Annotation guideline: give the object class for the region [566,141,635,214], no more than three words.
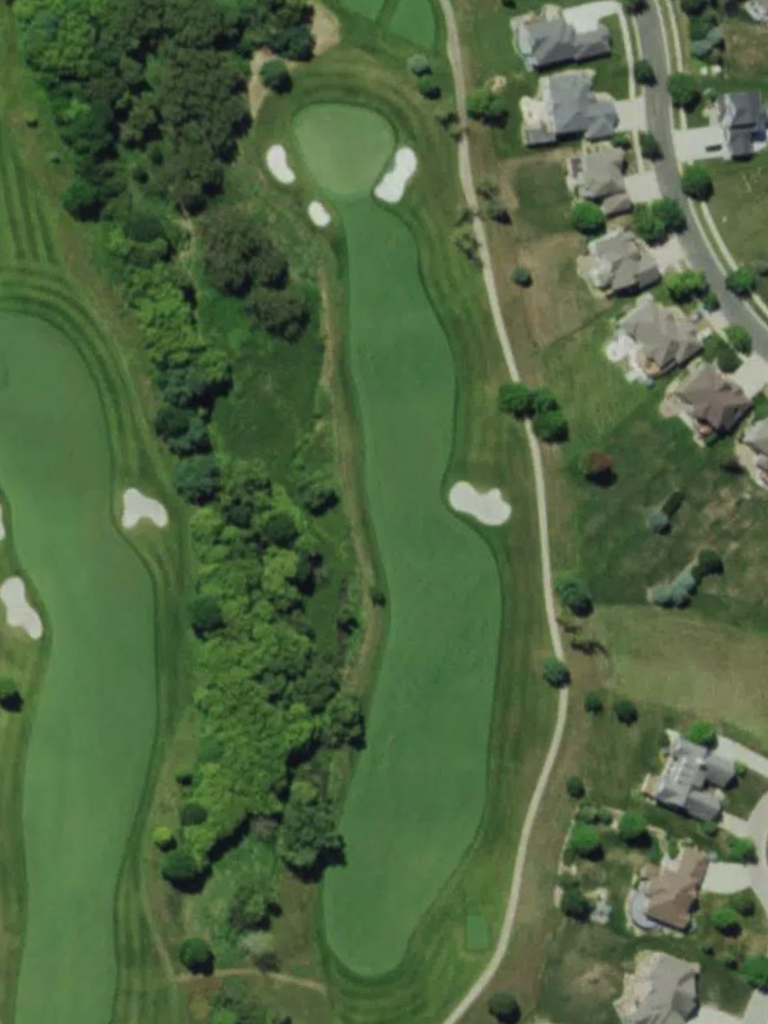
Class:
house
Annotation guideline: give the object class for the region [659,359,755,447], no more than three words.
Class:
house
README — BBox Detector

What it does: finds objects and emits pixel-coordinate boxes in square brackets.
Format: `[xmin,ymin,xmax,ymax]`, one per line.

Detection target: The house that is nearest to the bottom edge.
[613,950,702,1024]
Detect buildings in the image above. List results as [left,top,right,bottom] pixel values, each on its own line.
[743,0,768,22]
[641,729,739,825]
[703,92,768,155]
[603,286,703,384]
[577,224,660,298]
[520,69,621,146]
[625,841,709,937]
[659,359,755,447]
[511,5,614,71]
[566,141,635,214]
[613,950,702,1024]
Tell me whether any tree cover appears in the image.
Yes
